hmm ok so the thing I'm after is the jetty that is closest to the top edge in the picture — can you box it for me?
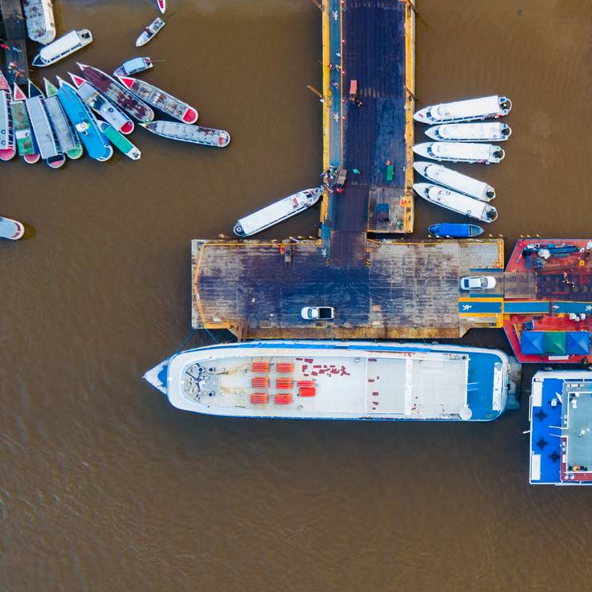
[0,0,35,86]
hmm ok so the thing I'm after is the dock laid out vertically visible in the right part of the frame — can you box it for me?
[319,0,417,267]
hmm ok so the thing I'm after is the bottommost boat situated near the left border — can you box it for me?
[0,218,28,239]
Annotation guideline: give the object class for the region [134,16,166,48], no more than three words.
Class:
boat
